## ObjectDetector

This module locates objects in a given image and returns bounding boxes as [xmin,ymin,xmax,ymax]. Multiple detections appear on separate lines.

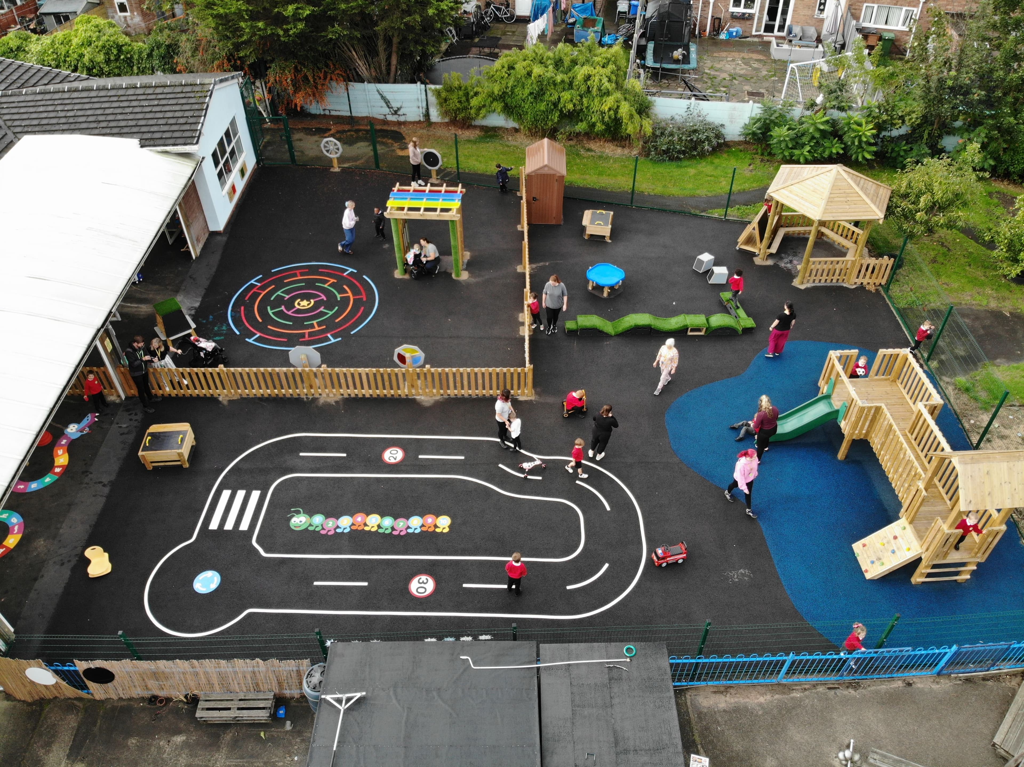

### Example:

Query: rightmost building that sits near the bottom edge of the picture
[539,641,687,767]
